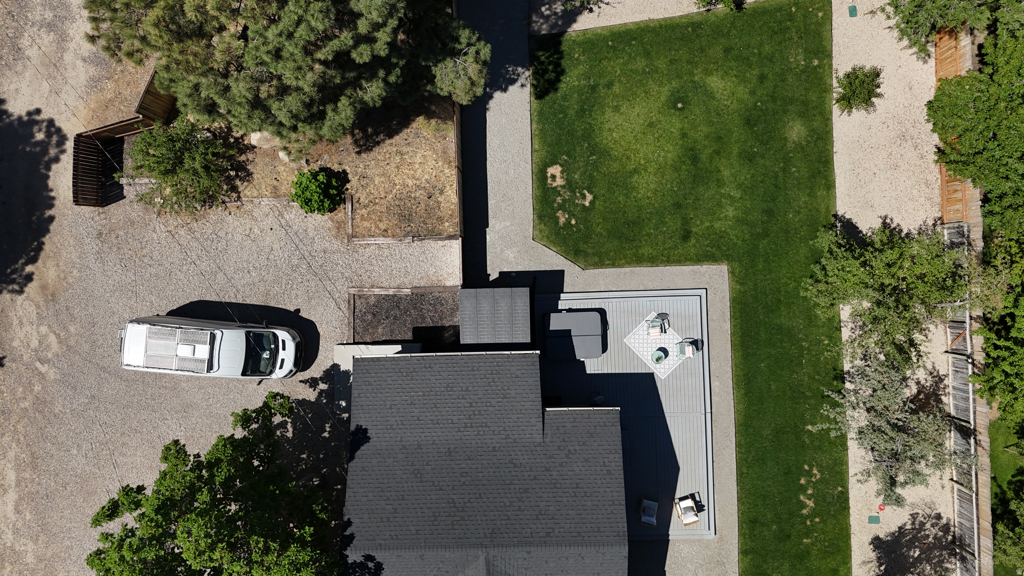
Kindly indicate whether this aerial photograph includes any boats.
No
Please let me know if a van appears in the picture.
Yes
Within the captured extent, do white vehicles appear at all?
Yes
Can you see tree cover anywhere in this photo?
Yes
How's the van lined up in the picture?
from left to right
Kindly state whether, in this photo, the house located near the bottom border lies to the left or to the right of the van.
right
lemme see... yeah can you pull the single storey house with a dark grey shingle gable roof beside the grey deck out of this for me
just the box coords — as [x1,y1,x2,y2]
[343,348,628,576]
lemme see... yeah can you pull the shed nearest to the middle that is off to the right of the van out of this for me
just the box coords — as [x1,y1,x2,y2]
[459,287,531,344]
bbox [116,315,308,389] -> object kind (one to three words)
van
